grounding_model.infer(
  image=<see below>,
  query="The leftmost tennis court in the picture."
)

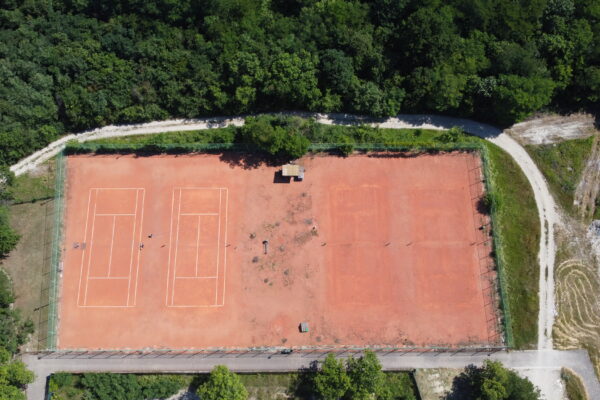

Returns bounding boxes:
[73,179,149,317]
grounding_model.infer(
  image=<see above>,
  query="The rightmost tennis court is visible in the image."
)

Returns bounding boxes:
[405,178,478,316]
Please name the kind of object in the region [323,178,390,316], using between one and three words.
tennis court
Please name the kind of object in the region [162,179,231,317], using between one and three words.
tennis court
